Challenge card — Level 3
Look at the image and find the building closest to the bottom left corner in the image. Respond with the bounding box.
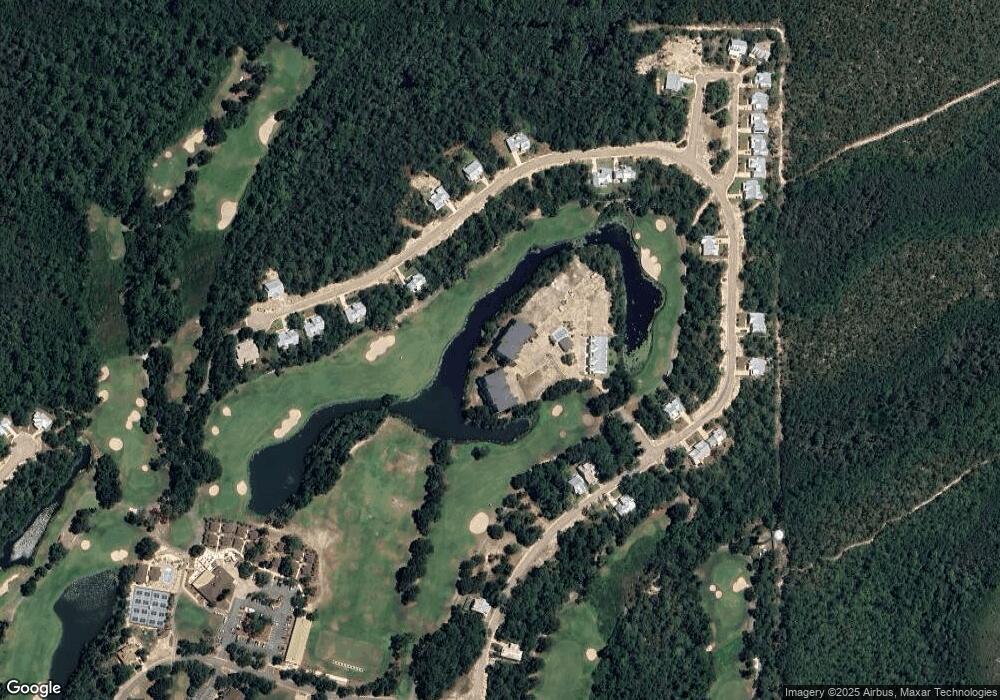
[116,641,139,668]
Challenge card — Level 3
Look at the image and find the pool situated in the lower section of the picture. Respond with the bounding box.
[160,566,177,586]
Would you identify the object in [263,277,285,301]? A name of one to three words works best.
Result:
house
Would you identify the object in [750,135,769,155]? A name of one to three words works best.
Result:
house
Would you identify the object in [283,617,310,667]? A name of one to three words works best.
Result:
barn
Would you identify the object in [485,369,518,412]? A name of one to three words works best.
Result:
building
